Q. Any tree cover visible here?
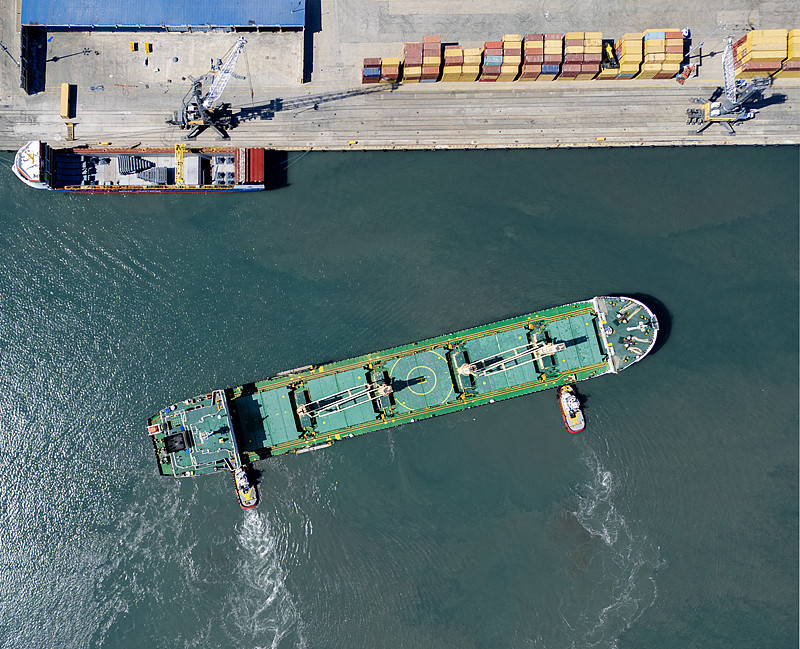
No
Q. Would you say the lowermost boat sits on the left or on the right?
left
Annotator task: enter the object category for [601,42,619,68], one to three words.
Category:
work vehicle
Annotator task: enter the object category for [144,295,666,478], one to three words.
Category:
ship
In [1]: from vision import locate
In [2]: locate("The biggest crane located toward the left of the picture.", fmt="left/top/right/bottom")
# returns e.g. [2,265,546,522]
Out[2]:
[174,36,260,140]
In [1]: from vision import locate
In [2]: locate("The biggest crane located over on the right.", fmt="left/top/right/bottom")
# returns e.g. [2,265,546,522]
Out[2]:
[688,37,772,134]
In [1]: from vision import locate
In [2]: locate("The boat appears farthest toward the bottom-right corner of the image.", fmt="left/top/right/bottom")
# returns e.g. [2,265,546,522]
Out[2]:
[558,385,584,433]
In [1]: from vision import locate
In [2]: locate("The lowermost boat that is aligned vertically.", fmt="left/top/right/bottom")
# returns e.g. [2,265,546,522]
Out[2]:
[231,463,259,510]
